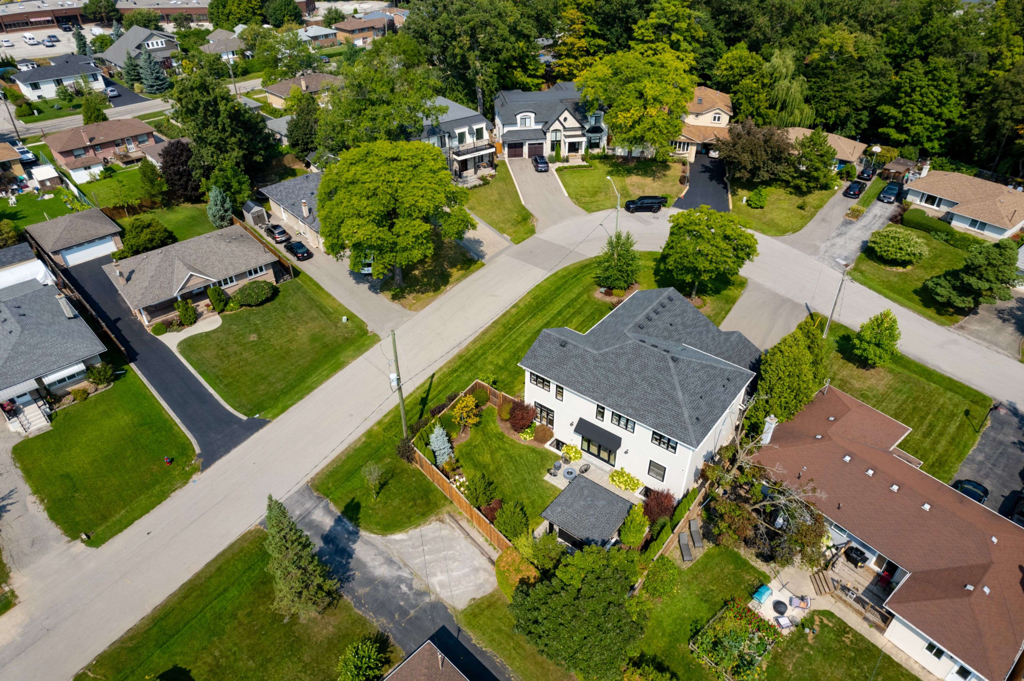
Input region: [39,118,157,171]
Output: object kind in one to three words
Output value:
house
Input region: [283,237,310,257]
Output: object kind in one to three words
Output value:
car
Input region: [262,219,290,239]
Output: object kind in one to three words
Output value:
car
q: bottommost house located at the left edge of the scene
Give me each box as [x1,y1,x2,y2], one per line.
[0,287,109,432]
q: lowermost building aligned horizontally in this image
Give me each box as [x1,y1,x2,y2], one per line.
[383,640,470,681]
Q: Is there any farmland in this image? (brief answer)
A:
No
